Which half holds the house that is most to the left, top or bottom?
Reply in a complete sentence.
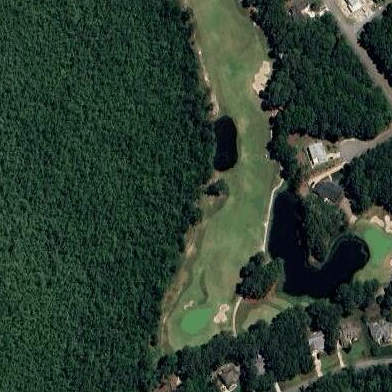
Seen from above, the house that is most to the left lies in the bottom half of the view.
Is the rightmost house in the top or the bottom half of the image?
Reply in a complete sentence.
It is in the bottom half that the rightmost house appears.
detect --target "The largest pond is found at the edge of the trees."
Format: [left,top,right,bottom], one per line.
[267,188,370,298]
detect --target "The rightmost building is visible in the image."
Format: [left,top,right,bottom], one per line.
[370,321,392,343]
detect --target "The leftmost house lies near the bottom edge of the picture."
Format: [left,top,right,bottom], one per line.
[217,365,240,386]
